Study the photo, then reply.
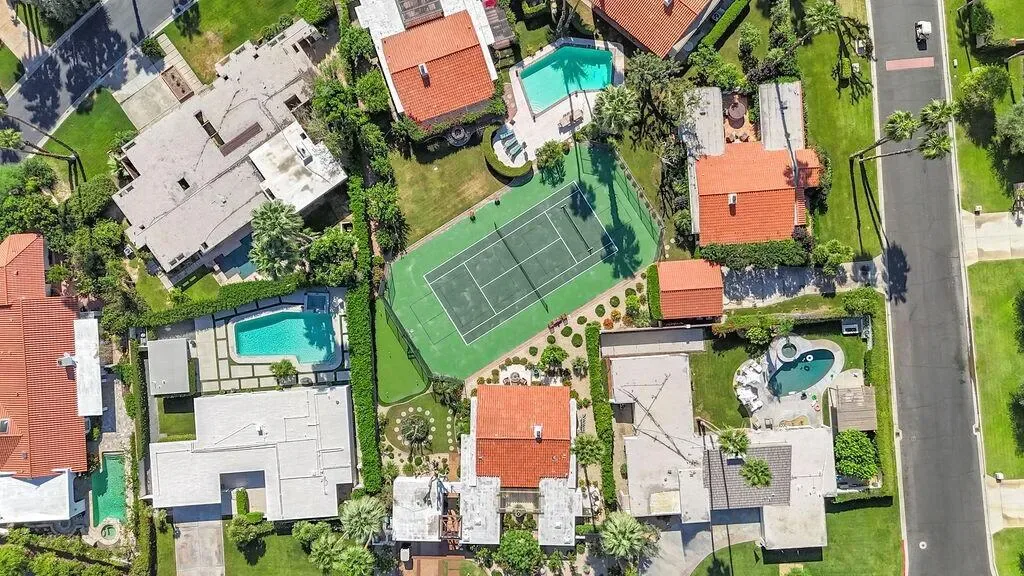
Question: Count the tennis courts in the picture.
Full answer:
I count just 1 tennis court.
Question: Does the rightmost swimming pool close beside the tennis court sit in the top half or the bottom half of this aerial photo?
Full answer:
The top half of the photo is where the rightmost swimming pool close beside the tennis court is.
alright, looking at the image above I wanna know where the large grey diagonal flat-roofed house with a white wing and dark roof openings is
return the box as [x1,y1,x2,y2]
[111,19,348,272]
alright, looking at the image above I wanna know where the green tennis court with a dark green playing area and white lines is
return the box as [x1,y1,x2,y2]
[384,139,663,381]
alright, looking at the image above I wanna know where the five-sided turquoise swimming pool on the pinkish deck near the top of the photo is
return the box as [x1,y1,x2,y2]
[519,43,615,115]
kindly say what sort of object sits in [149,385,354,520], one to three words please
house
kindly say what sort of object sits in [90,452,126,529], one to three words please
swimming pool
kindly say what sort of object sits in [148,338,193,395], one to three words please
building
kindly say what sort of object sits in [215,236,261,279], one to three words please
swimming pool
